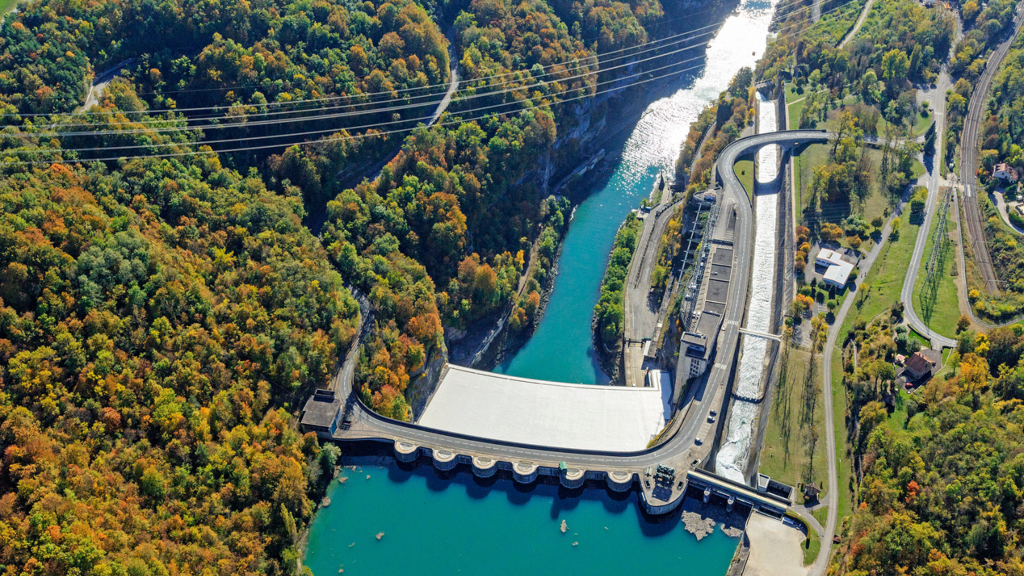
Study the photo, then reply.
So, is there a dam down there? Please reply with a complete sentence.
Yes, the picture does show a dam.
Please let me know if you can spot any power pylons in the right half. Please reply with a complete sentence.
Yes, a power pylon appears in the right half.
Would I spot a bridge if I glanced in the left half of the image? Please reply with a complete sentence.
No, in the left half of the image there is no bridge.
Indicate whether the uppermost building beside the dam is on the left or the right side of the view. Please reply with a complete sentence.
The uppermost building beside the dam is on the right side of the image.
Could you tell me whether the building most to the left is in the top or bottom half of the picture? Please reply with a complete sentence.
The building most to the left sits in the bottom half of the picture.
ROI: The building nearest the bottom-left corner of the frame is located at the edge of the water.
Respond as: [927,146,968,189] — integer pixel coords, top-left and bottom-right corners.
[301,389,341,443]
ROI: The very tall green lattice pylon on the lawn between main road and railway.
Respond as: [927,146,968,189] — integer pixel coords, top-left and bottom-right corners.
[919,184,971,301]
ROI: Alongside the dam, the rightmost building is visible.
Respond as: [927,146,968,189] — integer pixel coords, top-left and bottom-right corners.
[679,239,734,375]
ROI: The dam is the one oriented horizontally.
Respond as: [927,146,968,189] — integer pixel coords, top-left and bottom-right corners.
[334,383,707,516]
